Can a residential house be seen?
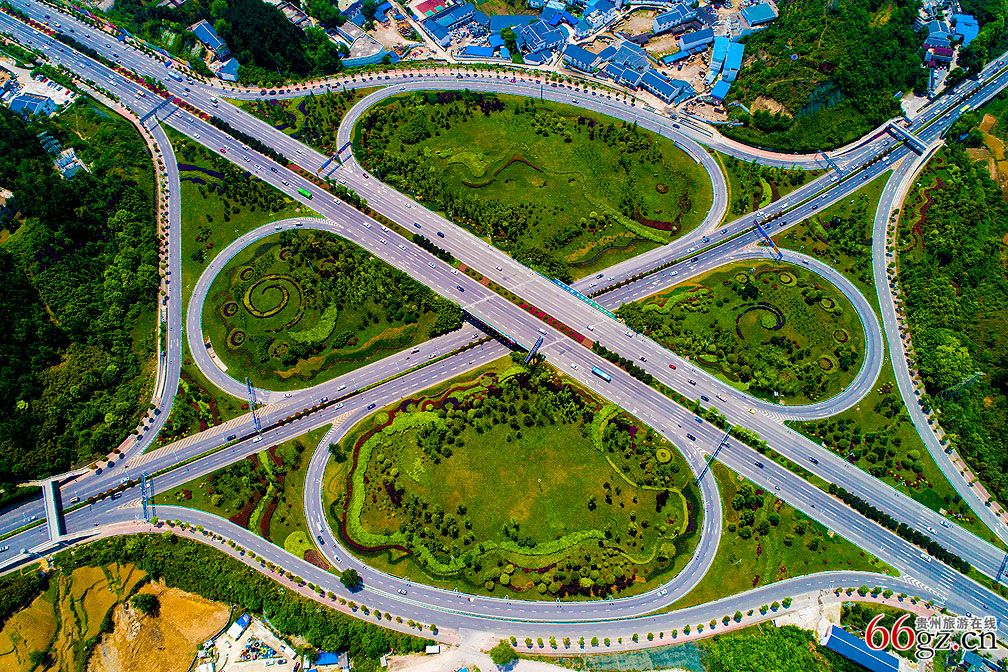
Yes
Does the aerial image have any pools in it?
No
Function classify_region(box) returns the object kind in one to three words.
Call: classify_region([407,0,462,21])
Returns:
sports court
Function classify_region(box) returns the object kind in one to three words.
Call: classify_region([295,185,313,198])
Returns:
vehicle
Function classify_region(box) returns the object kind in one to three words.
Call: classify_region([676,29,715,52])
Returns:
house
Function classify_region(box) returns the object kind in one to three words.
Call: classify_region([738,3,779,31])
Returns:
building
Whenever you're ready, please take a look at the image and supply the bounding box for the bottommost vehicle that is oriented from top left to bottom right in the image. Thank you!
[282,642,297,658]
